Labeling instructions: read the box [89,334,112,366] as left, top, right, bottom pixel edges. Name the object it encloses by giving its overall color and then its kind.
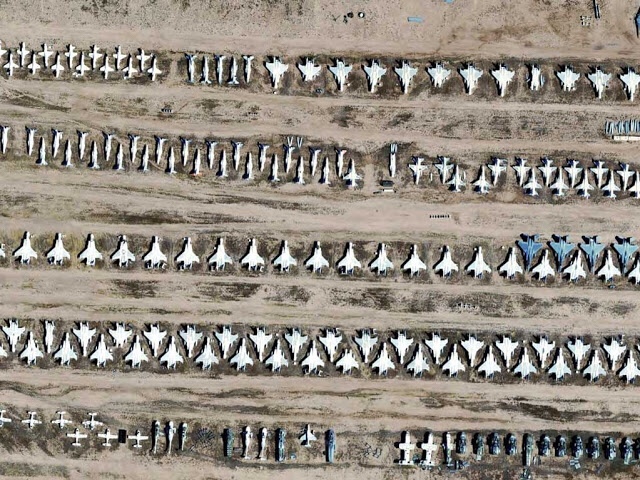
white airplane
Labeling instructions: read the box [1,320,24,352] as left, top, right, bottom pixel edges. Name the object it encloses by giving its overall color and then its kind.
white airplane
